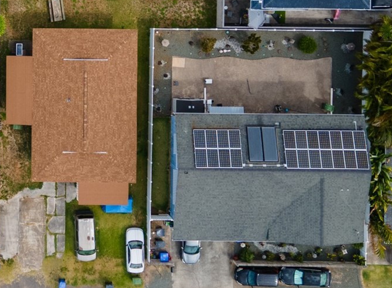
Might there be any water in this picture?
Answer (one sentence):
No, the scene doesn't show any water.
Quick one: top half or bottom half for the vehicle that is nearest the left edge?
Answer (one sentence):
The bottom half of the photo is where the vehicle that is nearest the left edge is.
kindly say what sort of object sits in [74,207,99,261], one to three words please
vehicle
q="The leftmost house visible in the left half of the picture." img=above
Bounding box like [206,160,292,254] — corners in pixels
[7,28,138,205]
